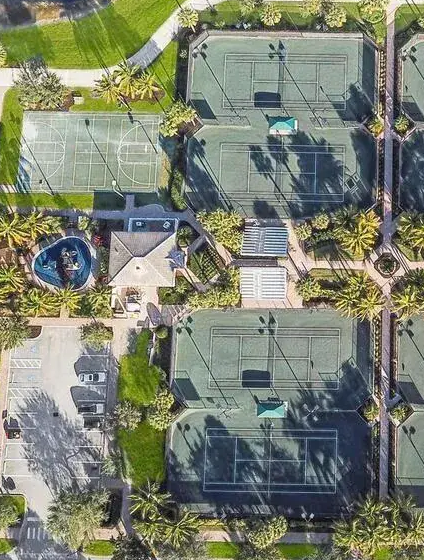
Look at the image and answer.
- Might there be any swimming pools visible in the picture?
Yes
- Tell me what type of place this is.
sports ground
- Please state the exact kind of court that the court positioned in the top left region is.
basketball court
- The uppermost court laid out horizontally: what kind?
tennis court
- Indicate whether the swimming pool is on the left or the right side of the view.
left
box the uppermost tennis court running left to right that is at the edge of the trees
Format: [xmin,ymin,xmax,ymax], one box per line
[187,34,375,125]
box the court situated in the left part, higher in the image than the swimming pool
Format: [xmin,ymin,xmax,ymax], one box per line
[17,112,161,193]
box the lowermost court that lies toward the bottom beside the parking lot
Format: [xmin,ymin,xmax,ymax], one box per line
[166,409,372,518]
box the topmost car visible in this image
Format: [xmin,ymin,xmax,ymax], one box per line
[78,372,107,385]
